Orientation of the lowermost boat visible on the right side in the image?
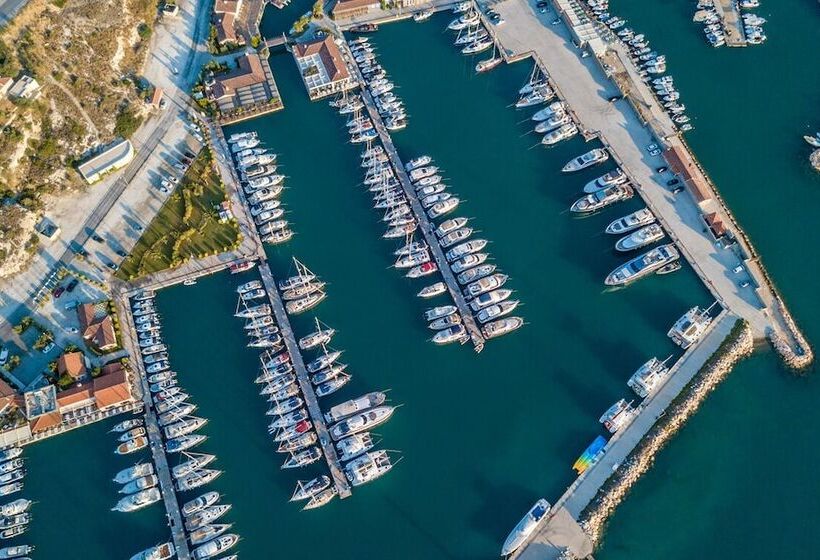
at an angle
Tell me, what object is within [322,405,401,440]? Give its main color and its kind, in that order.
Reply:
white boat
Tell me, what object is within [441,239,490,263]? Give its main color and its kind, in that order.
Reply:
white boat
